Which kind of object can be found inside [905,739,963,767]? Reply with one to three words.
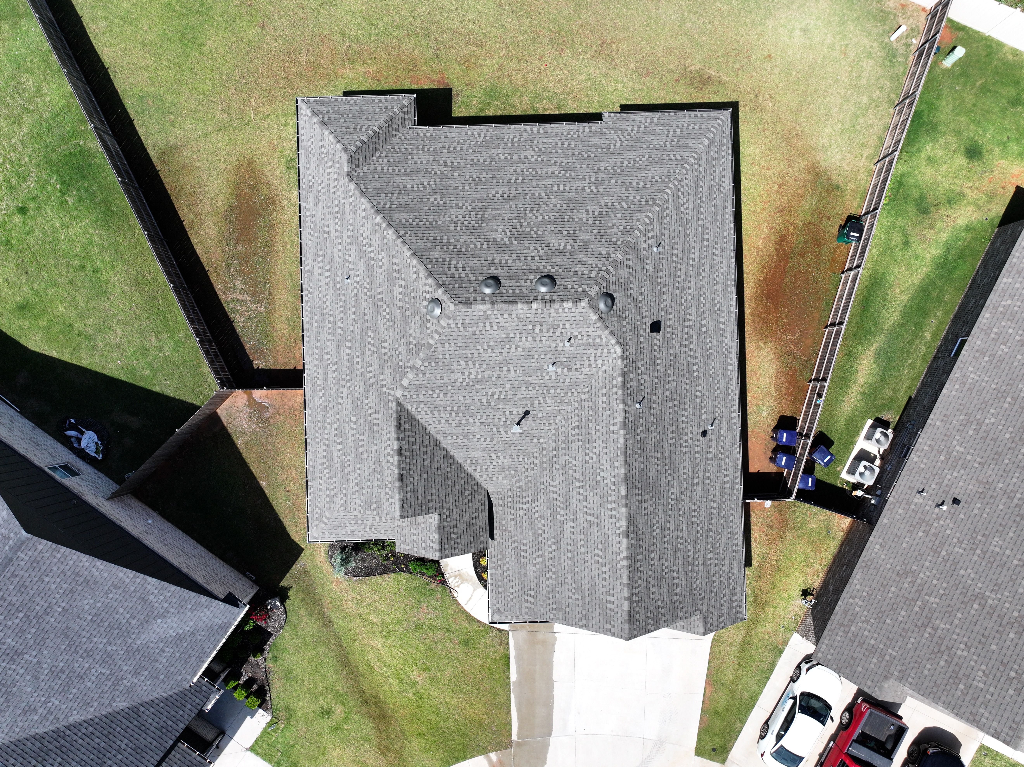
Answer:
car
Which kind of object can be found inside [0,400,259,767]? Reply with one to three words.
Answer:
house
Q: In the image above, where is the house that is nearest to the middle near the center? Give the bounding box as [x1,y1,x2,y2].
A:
[296,94,747,636]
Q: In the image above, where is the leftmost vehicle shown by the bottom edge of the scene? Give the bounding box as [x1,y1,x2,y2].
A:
[760,662,842,767]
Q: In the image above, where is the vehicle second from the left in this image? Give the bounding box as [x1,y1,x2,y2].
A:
[815,696,906,767]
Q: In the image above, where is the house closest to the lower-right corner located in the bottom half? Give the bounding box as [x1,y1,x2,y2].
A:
[795,219,1024,757]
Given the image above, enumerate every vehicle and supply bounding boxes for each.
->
[760,662,842,767]
[815,696,906,767]
[905,739,963,767]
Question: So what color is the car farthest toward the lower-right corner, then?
black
